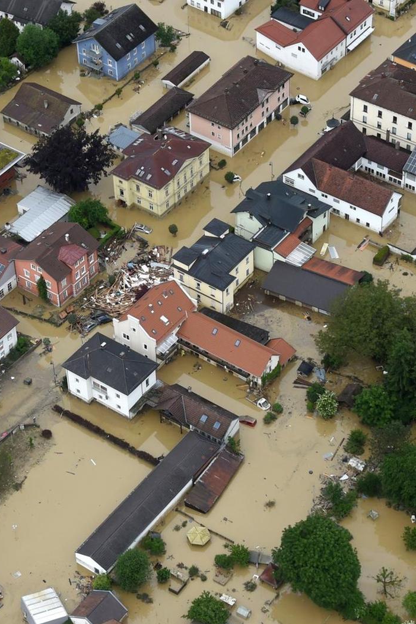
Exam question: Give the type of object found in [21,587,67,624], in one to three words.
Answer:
building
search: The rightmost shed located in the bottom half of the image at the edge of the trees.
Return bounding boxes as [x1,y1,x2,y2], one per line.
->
[337,381,364,410]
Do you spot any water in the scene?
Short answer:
Yes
